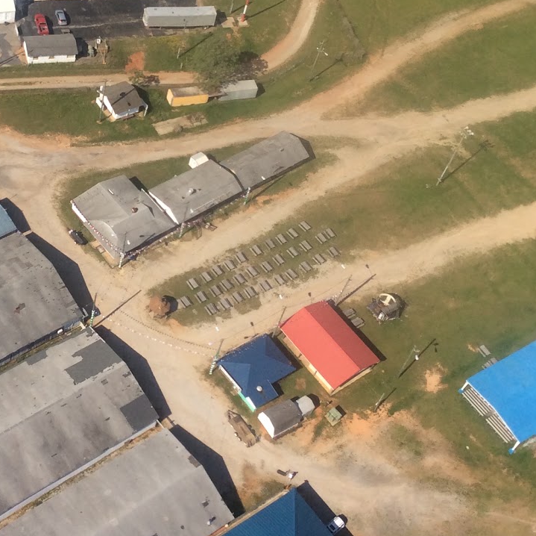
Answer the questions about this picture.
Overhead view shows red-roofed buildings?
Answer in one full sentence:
Yes, a red-roofed building is visible in the scene.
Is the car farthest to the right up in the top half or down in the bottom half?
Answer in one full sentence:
The car farthest to the right is in the bottom half of the image.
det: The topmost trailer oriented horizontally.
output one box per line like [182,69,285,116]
[143,11,217,39]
